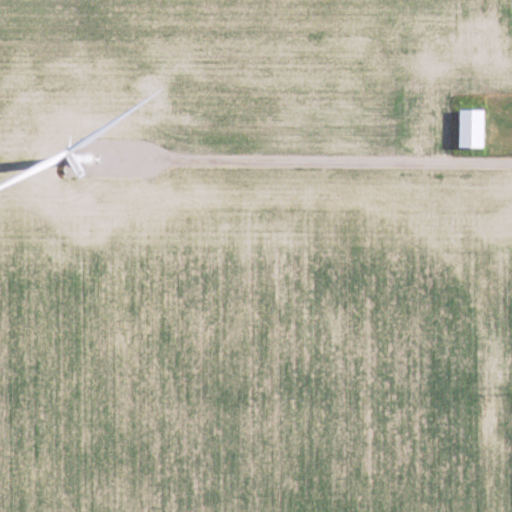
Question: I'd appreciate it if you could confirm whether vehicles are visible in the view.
No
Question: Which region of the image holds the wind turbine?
top left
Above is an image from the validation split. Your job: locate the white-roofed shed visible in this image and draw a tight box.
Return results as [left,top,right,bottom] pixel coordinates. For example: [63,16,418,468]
[459,109,486,150]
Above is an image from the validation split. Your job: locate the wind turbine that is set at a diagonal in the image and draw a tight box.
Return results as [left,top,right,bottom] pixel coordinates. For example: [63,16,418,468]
[0,88,158,186]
